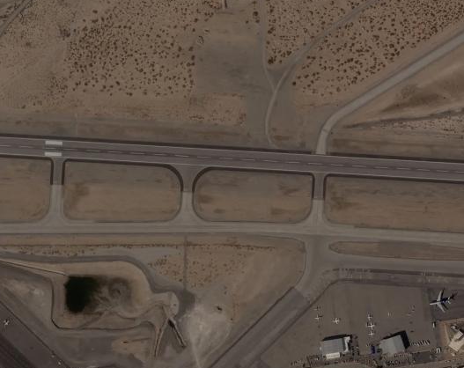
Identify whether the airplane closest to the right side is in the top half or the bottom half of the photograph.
bottom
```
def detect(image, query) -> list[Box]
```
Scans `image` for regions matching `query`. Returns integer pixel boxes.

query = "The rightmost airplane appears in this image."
[431,291,453,312]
